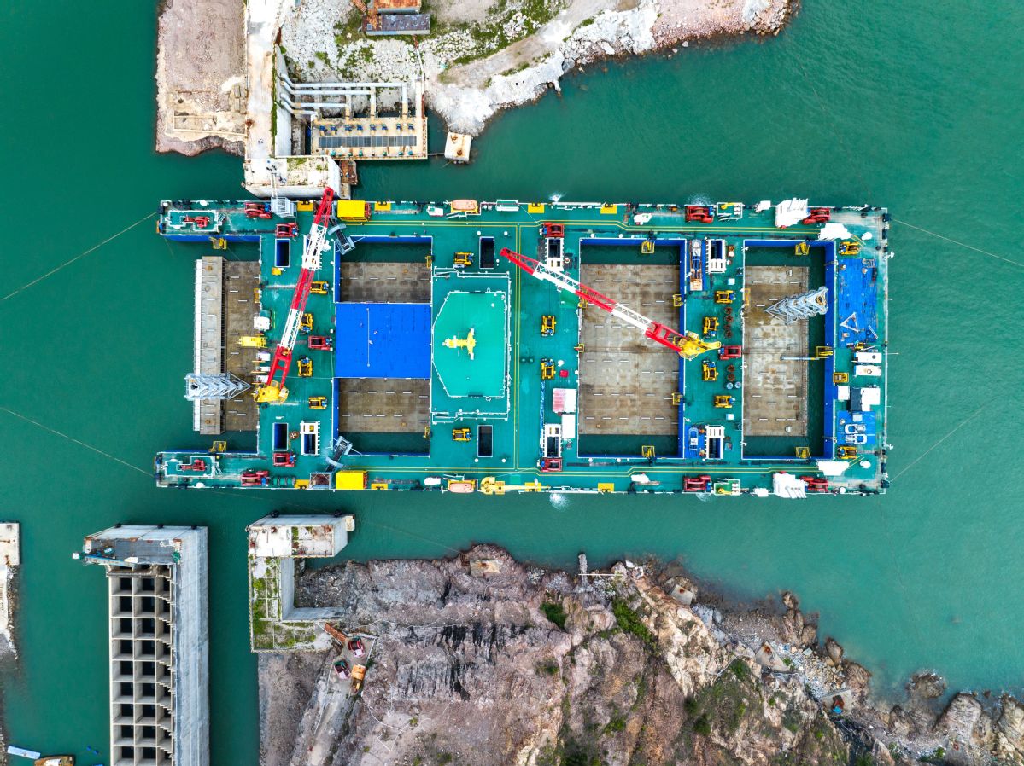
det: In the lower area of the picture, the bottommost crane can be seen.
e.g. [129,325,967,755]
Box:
[479,477,553,496]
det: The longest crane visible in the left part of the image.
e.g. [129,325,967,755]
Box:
[254,184,334,407]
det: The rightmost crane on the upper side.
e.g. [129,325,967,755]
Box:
[497,246,721,360]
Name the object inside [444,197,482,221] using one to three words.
boat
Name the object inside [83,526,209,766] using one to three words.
pier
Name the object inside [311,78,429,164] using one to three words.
building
